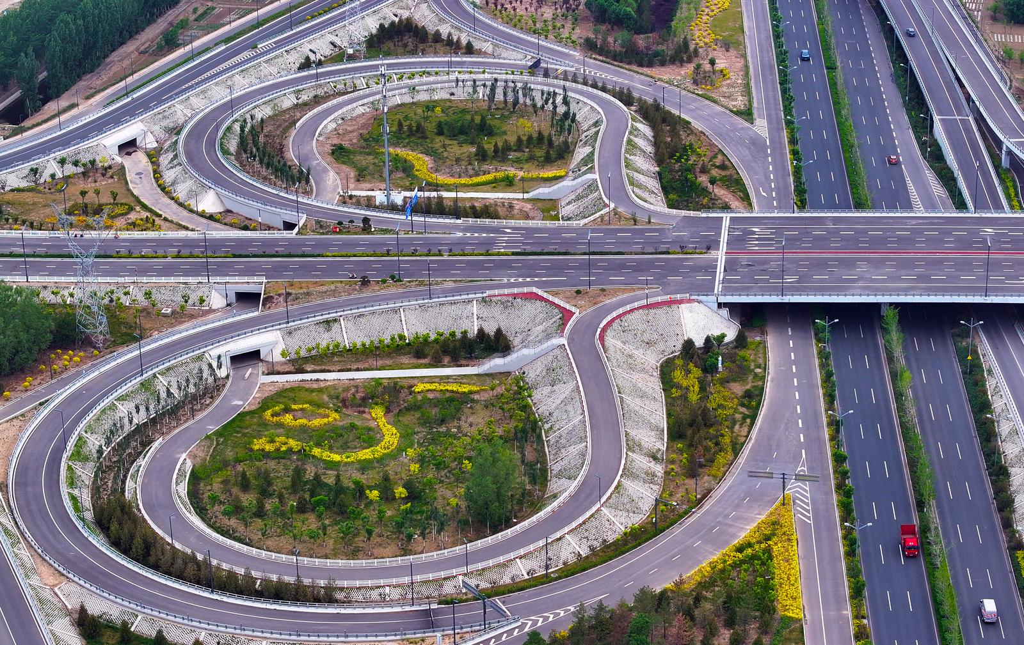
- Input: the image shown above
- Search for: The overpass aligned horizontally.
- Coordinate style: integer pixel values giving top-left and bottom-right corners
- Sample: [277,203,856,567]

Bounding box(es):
[718,216,1024,325]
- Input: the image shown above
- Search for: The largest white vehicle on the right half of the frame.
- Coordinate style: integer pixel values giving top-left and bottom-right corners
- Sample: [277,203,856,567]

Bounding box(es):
[981,601,997,622]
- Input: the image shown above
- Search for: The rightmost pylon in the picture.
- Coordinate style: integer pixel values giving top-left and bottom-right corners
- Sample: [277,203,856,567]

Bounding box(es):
[342,0,369,60]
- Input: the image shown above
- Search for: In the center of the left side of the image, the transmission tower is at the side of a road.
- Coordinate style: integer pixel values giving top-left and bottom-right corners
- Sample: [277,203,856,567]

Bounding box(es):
[43,196,113,348]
